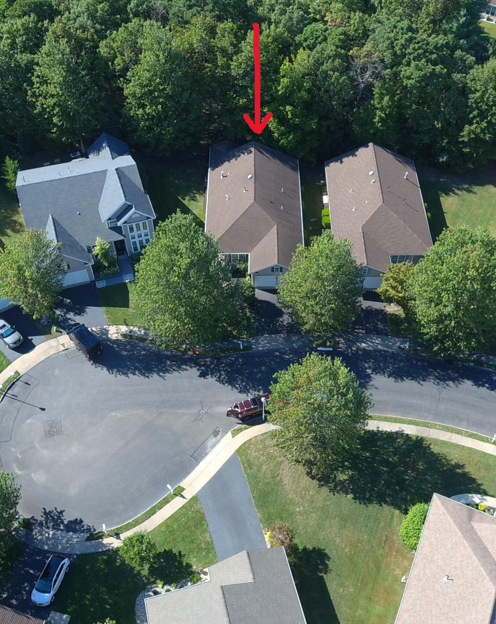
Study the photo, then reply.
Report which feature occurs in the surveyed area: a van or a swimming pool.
van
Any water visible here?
No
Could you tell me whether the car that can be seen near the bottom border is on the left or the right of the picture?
left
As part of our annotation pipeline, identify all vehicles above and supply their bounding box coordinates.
[232,395,277,422]
[66,324,100,359]
[31,552,69,606]
[0,317,22,348]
